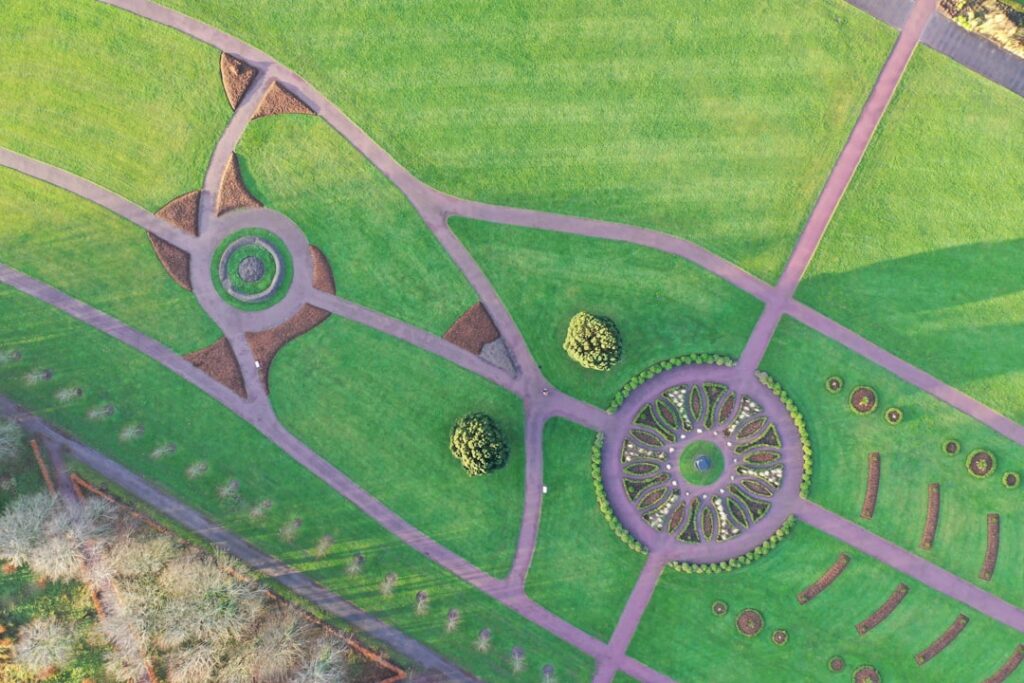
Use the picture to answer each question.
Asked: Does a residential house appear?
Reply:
No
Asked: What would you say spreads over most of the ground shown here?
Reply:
grass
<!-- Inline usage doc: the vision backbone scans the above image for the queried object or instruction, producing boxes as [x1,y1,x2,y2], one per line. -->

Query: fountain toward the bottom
[694,455,711,472]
